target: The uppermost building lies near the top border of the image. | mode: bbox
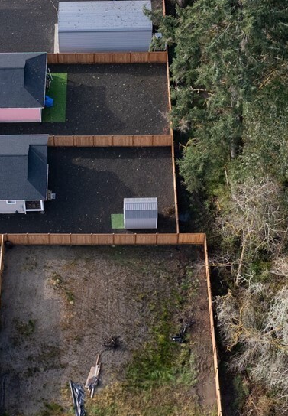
[57,0,151,51]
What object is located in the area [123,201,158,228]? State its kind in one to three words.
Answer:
shed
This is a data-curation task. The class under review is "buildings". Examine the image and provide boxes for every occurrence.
[0,135,49,212]
[123,201,158,228]
[0,53,48,122]
[57,0,151,51]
